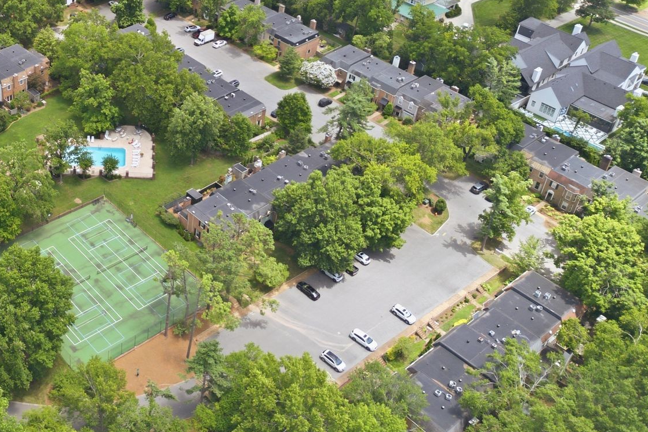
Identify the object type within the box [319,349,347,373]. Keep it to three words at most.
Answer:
car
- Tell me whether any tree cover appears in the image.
Yes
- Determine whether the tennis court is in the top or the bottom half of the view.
bottom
